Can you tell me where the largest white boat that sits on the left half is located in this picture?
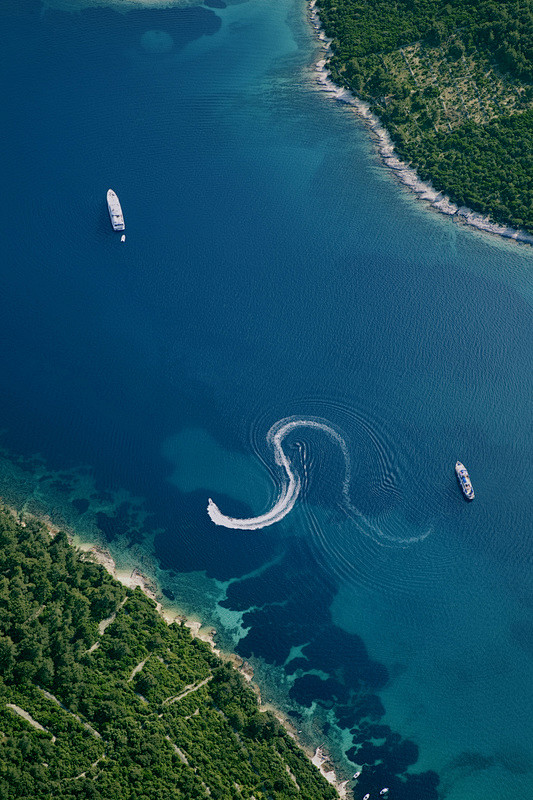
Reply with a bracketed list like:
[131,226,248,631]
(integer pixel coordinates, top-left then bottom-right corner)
[107,188,124,234]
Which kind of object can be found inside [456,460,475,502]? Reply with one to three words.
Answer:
boat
